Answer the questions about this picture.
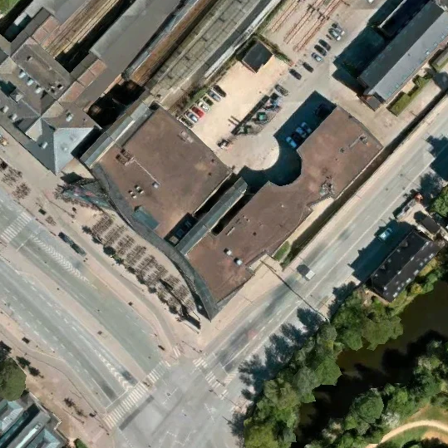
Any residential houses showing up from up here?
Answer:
Yes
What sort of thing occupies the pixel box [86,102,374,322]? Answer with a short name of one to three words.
building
